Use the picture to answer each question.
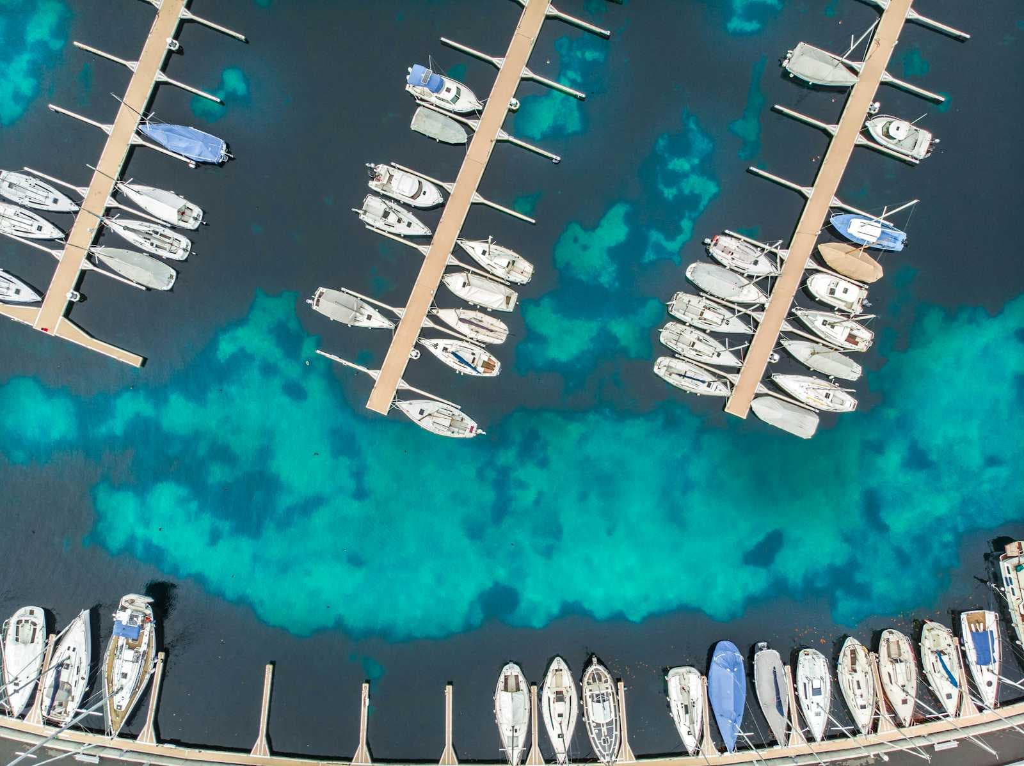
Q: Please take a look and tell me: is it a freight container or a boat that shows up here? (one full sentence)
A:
Looking from above, you can make out a boat.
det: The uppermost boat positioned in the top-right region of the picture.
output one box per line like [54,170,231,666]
[783,22,881,86]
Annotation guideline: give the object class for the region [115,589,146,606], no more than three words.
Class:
boat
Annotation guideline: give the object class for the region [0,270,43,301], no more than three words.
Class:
boat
